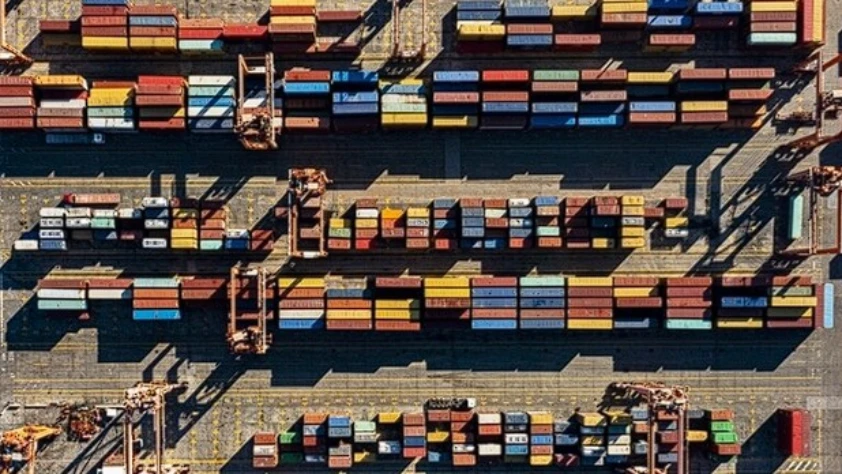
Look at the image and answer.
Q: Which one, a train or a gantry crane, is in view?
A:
gantry crane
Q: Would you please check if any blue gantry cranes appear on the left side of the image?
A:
No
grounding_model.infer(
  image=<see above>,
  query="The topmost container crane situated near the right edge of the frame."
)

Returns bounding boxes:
[784,46,842,146]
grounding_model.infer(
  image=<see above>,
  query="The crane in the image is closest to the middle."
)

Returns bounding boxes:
[281,162,335,260]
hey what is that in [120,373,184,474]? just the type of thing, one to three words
container crane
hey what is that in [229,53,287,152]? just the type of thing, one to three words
container crane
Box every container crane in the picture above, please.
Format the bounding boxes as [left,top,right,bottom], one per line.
[780,162,842,258]
[0,0,38,59]
[281,162,335,260]
[229,53,287,152]
[120,373,184,474]
[224,260,280,358]
[784,46,842,146]
[385,0,436,59]
[618,373,693,474]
